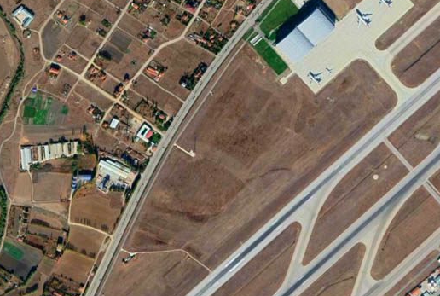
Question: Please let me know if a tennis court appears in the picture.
No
